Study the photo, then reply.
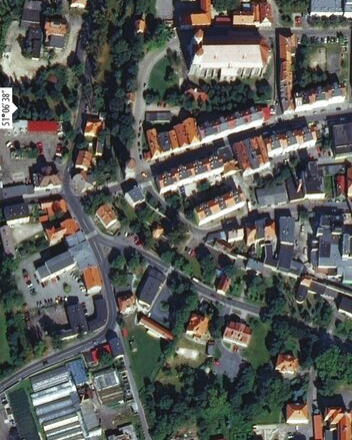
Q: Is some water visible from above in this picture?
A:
No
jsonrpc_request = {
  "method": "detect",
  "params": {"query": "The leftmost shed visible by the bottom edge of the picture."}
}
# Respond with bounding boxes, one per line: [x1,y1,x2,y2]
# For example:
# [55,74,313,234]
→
[7,388,33,424]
